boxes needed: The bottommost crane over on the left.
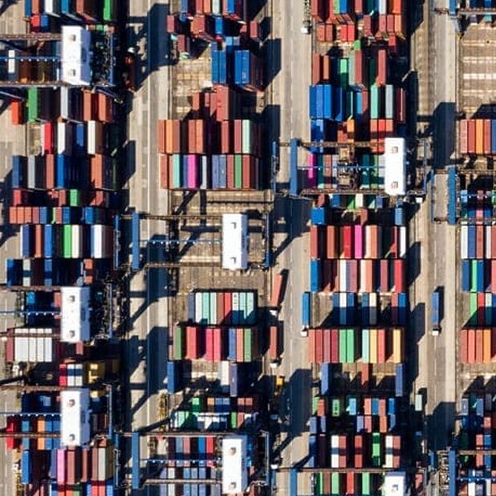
[115,412,272,492]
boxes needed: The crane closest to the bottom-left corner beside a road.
[0,371,129,448]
